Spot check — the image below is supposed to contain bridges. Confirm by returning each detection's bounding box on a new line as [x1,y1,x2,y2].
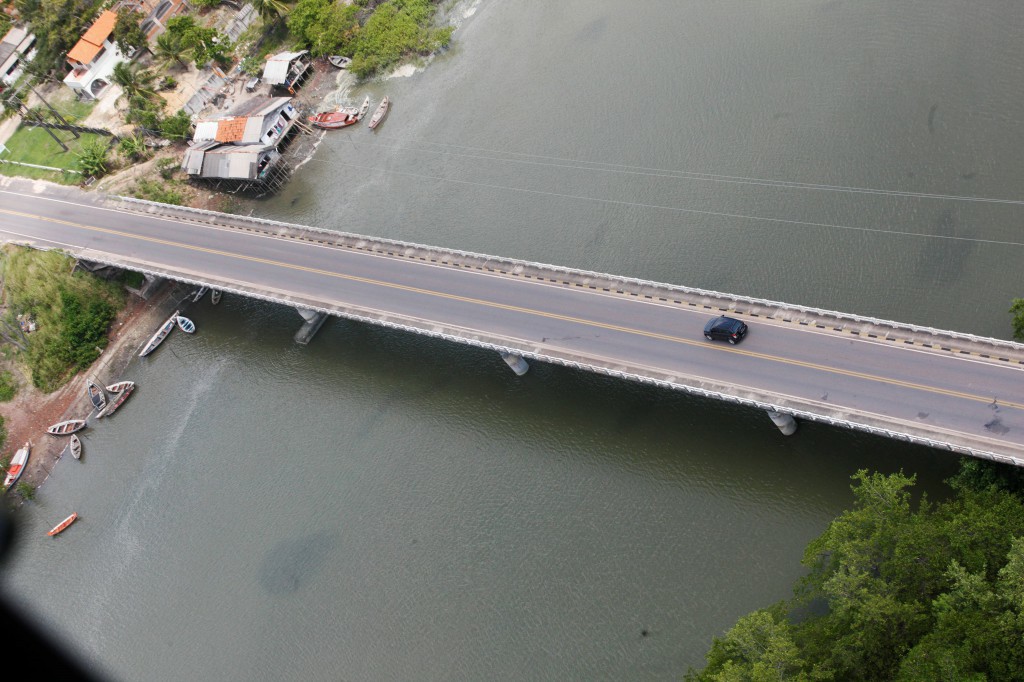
[64,196,1024,474]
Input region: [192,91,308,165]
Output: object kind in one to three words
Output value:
house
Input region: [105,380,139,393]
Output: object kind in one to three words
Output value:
boat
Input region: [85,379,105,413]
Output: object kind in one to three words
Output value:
boat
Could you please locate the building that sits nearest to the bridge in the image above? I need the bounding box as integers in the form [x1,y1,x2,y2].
[186,141,294,200]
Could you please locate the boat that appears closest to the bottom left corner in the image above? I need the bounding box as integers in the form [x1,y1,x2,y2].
[47,512,80,538]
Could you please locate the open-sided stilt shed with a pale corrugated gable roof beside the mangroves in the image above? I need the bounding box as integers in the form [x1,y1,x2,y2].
[263,50,322,102]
